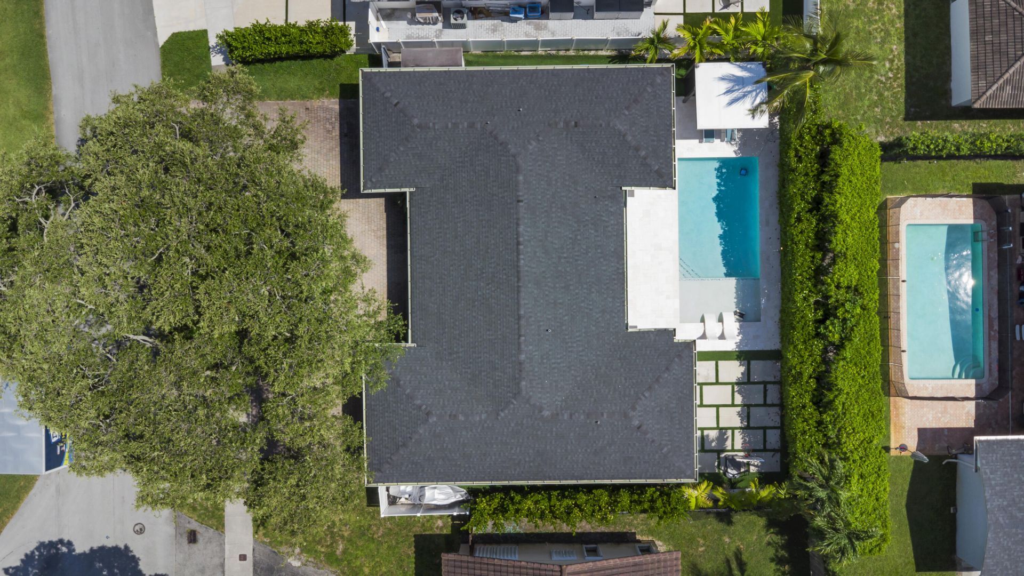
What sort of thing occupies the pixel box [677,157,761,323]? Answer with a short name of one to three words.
swimming pool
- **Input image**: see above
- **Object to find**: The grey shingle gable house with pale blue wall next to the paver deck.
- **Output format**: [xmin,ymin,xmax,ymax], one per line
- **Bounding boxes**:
[942,434,1024,576]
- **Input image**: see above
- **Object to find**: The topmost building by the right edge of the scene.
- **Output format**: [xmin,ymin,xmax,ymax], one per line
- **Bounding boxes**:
[951,0,1024,110]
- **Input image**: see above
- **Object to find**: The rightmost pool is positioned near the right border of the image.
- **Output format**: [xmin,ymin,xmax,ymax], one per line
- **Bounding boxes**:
[900,218,991,386]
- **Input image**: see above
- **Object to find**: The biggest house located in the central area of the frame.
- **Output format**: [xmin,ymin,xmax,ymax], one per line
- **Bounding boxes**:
[360,62,697,489]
